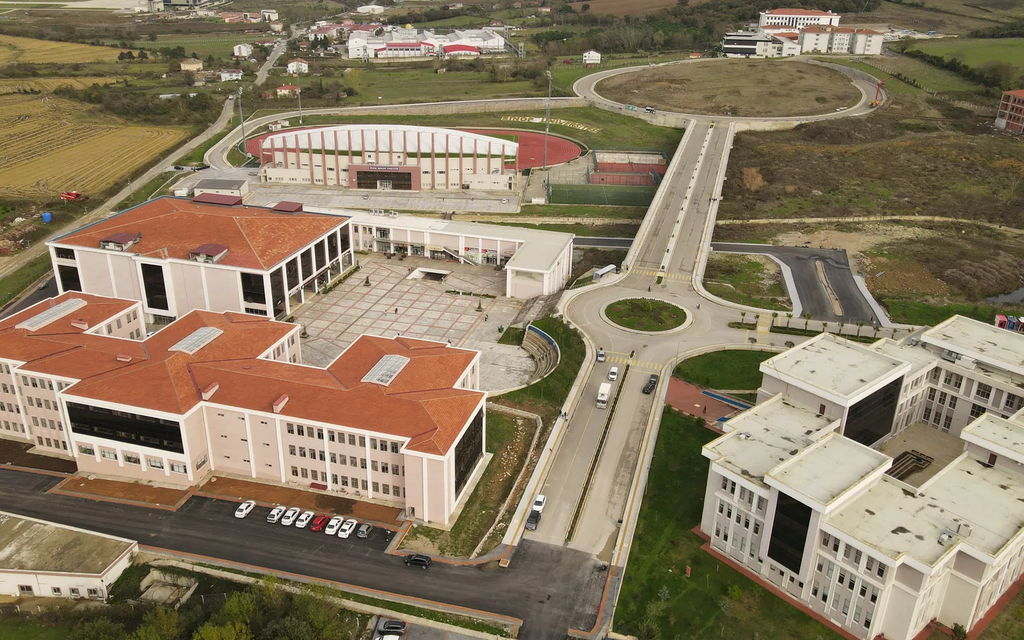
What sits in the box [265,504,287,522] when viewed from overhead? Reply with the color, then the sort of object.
white car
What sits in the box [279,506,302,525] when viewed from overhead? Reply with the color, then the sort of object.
white car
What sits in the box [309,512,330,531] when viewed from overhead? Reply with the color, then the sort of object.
red car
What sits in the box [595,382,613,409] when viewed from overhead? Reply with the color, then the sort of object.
white vehicle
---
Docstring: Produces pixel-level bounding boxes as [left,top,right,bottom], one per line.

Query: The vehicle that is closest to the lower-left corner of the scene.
[232,499,256,517]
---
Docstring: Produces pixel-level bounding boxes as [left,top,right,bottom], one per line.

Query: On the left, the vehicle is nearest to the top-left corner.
[55,188,91,204]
